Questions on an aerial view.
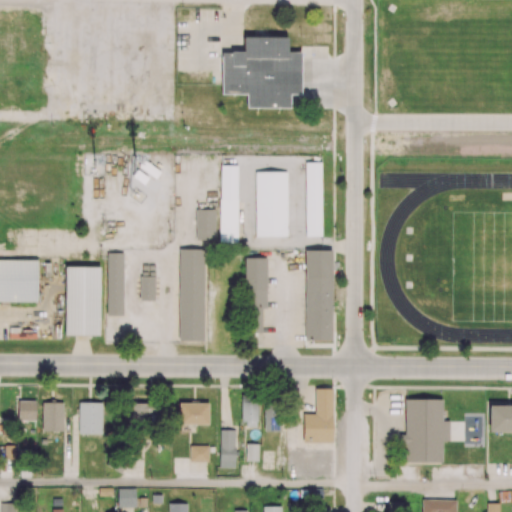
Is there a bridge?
No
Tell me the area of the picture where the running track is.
right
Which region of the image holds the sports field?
right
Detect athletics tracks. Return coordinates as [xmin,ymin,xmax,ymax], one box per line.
[381,174,512,342]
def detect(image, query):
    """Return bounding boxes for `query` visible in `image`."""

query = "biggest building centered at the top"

[223,36,303,108]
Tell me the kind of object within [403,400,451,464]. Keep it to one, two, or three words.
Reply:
building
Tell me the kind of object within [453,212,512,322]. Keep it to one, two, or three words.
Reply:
sports field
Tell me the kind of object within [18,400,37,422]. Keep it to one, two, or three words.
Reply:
house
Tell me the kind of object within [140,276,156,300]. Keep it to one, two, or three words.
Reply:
shed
